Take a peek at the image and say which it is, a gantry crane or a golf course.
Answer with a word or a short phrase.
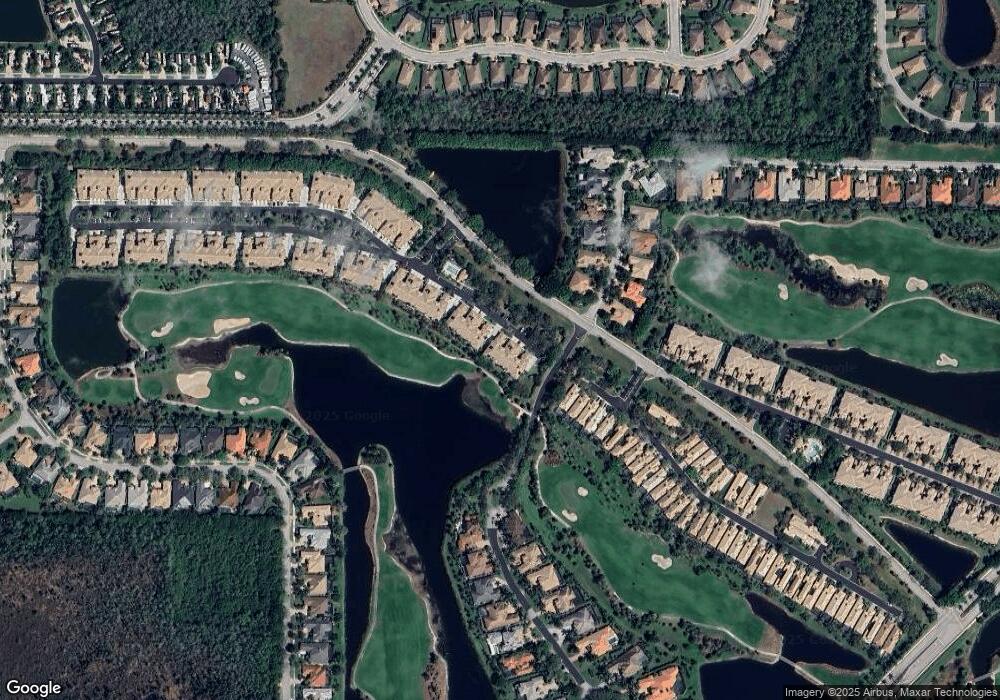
golf course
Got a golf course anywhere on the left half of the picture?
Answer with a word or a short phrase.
Yes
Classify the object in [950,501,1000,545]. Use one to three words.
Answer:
building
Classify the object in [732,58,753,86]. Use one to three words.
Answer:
house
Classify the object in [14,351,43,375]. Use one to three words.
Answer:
house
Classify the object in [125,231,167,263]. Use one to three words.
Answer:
building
